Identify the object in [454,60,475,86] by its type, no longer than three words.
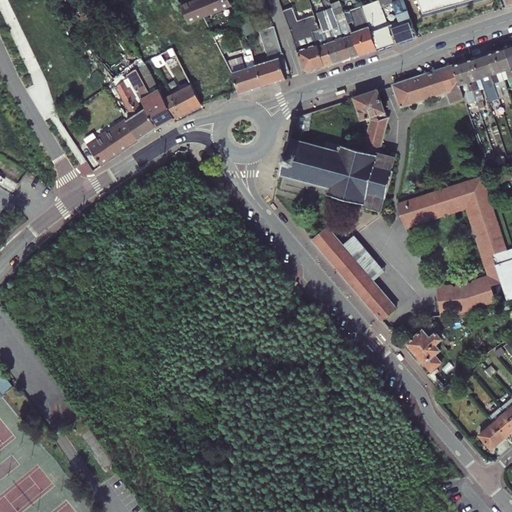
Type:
house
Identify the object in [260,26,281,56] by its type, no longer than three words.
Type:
building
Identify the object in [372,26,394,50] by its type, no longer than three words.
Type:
building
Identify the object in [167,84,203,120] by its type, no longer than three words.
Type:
house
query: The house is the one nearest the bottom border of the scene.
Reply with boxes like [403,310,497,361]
[480,408,512,454]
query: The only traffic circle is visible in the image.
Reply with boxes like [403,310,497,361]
[212,100,276,164]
